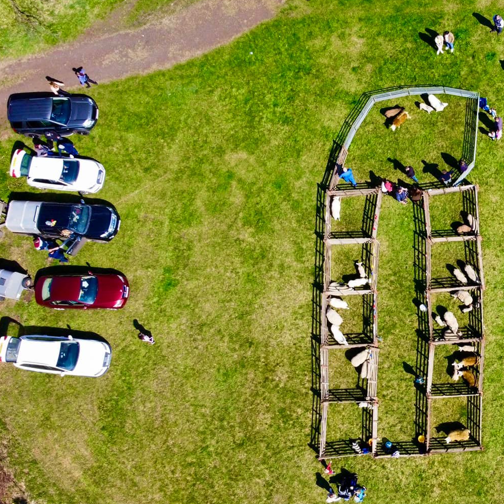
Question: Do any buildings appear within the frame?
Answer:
No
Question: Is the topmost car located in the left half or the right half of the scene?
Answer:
left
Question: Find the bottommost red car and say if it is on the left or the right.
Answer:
left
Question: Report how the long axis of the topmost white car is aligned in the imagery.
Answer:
from side to side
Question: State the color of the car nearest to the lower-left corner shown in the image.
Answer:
white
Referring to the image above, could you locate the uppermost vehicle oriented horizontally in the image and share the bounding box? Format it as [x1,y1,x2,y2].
[3,93,99,137]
